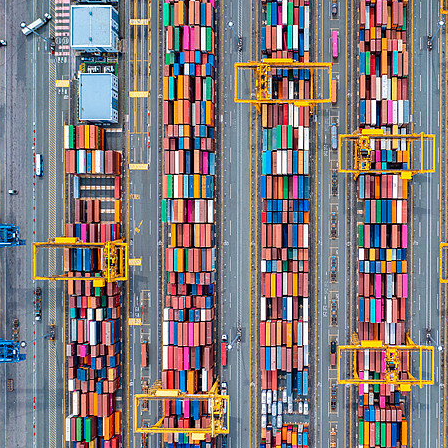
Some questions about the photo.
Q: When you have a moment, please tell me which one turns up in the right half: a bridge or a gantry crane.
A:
gantry crane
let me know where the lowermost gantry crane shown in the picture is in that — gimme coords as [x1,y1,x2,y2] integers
[134,377,229,442]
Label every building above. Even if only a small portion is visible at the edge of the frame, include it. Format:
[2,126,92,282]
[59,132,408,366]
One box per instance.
[71,5,118,52]
[79,73,119,125]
